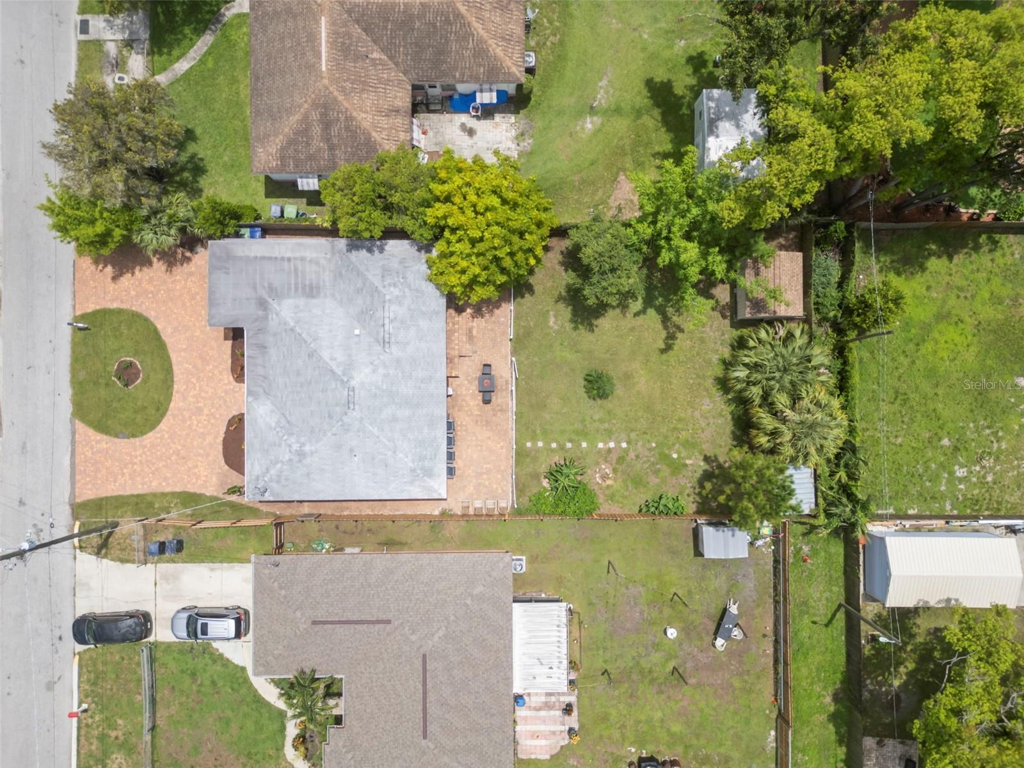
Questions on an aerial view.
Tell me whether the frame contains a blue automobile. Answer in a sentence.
No, no blue automobile can be seen from above.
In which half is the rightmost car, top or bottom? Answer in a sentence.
You can find the rightmost car in the bottom half.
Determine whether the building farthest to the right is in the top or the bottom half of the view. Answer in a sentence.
The bottom half of the photo is where the building farthest to the right is.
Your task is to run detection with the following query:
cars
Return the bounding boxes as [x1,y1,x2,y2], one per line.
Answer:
[173,605,252,643]
[74,608,155,648]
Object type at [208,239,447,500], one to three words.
house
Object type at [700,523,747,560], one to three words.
shed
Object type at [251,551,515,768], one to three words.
house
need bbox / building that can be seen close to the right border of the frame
[864,530,1024,608]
